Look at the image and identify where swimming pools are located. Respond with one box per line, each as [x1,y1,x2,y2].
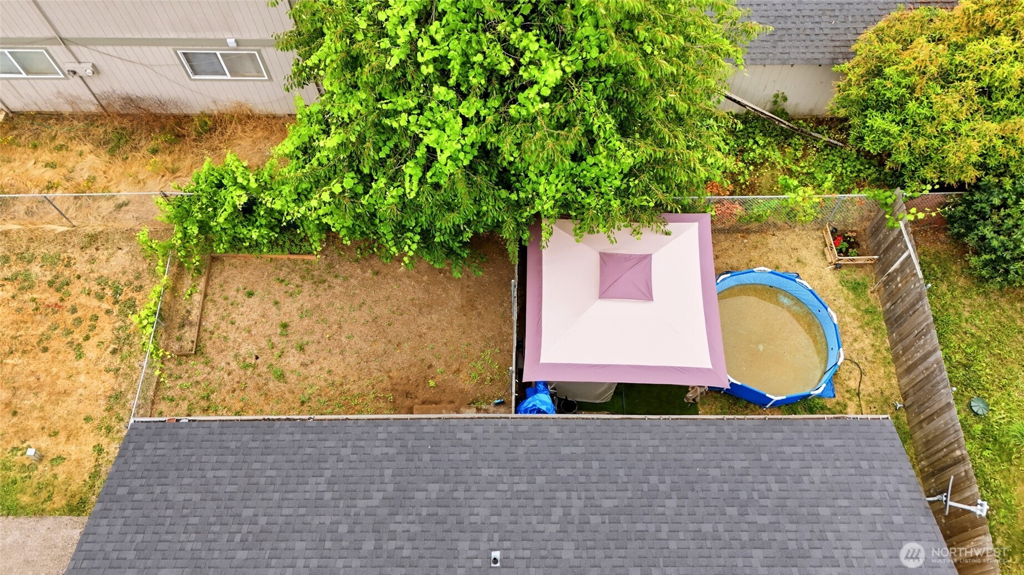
[695,264,846,412]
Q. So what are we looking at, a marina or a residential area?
residential area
